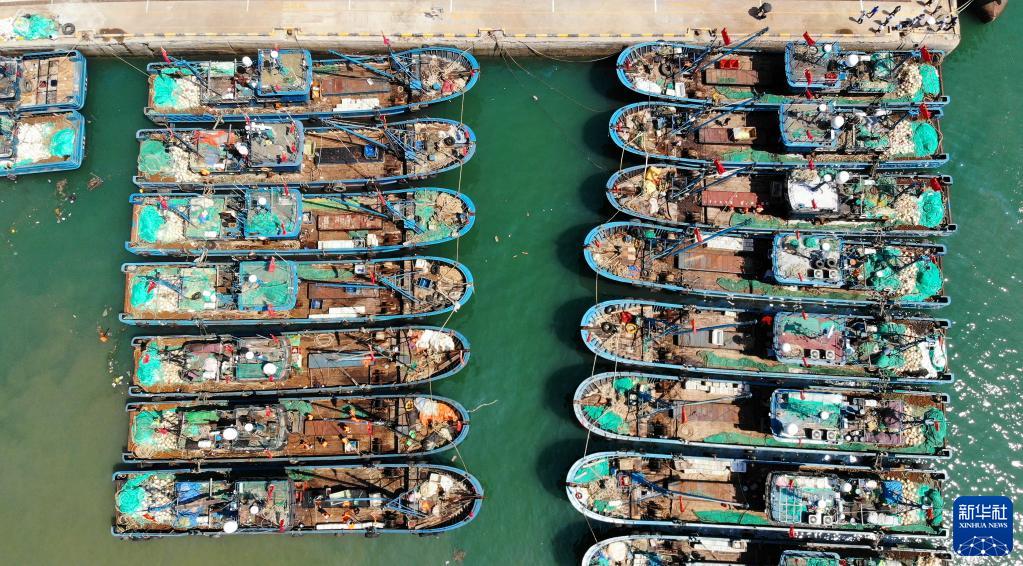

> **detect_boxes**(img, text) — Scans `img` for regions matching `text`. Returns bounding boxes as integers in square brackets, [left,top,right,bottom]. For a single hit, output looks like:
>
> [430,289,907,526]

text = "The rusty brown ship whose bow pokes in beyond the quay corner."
[958,0,1011,24]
